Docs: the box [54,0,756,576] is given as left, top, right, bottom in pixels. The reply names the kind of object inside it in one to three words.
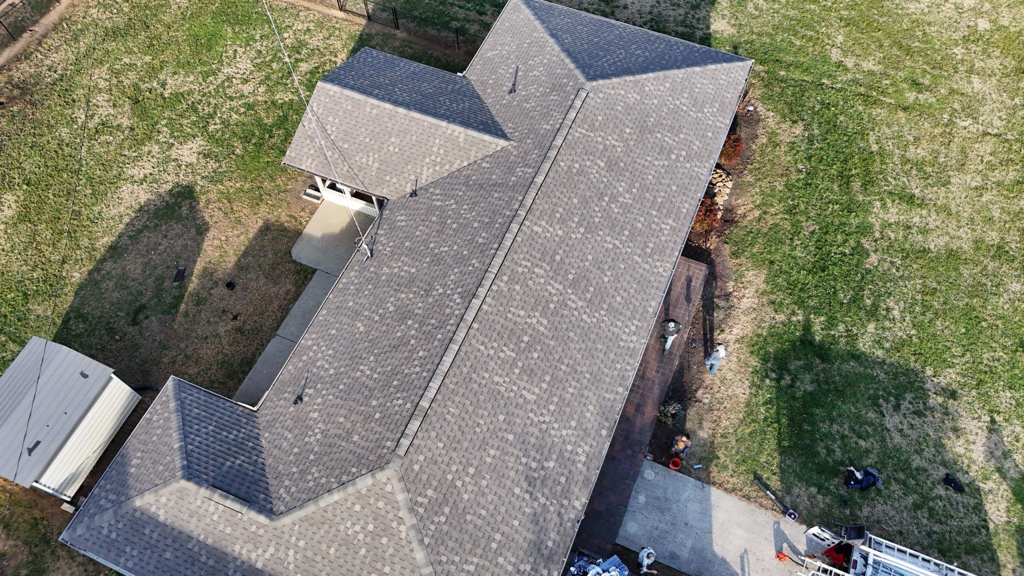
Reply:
house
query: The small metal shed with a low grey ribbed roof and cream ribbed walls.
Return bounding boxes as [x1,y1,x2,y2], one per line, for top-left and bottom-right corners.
[0,328,143,503]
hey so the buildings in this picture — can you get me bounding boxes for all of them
[54,0,756,576]
[0,328,143,503]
